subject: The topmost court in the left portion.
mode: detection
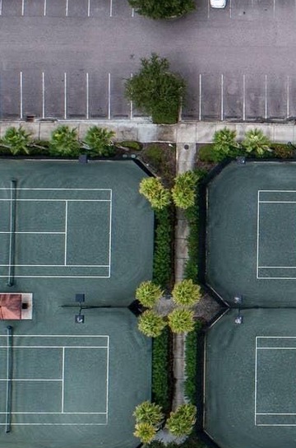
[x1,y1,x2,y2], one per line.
[0,159,153,306]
